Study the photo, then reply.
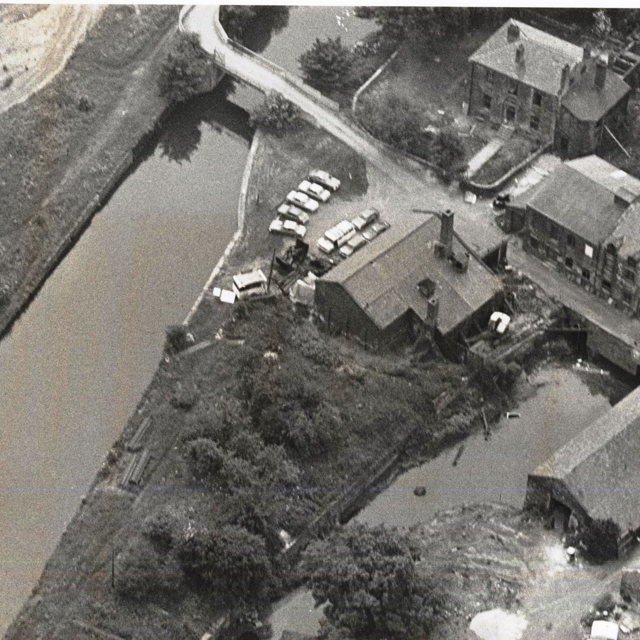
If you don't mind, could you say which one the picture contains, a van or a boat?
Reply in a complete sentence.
It is a van that can be seen here.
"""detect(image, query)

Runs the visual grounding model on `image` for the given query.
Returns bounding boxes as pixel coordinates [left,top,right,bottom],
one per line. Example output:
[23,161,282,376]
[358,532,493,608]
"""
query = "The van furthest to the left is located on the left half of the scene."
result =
[235,259,268,294]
